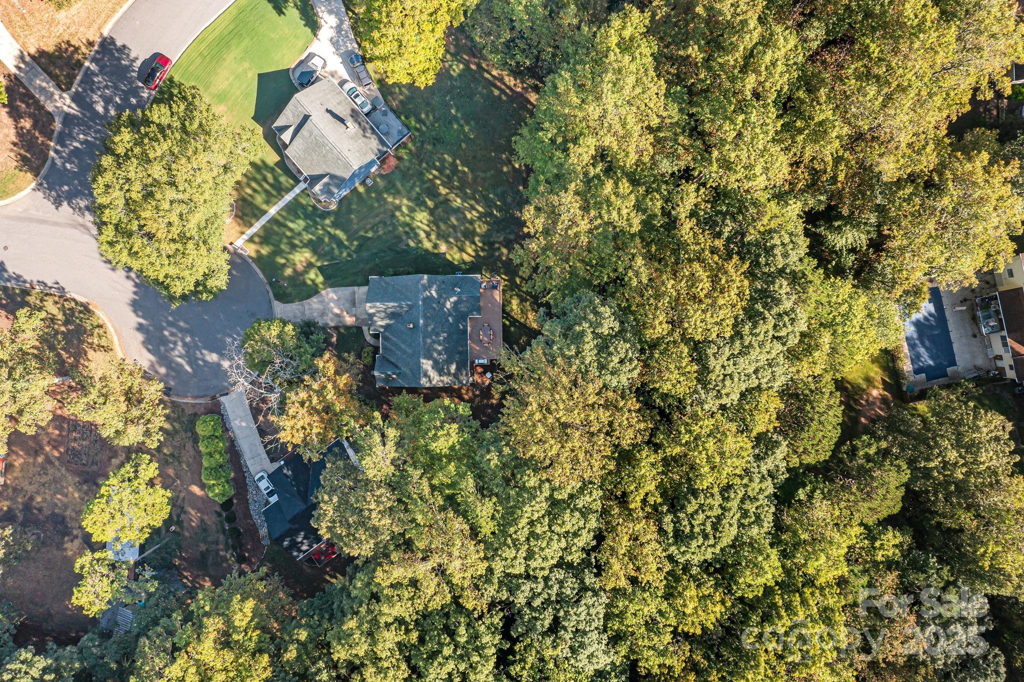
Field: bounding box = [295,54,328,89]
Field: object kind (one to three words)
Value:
car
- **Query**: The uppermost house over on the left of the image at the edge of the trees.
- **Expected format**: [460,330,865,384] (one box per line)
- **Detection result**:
[272,76,392,206]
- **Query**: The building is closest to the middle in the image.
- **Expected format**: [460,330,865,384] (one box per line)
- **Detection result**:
[365,273,481,388]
